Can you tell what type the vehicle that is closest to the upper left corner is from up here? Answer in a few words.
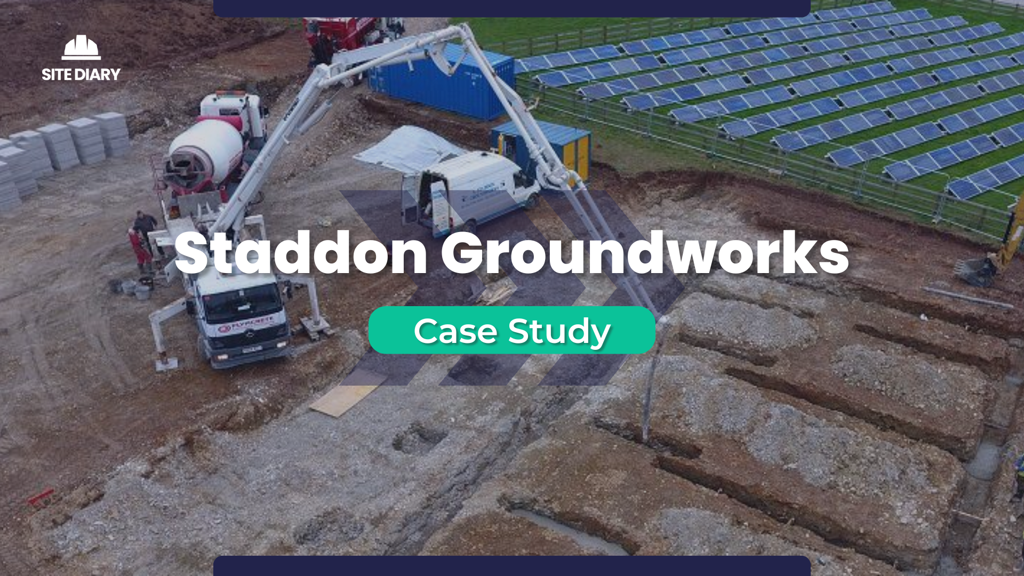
truck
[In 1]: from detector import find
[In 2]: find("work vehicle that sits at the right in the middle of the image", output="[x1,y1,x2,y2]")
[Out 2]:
[951,190,1024,294]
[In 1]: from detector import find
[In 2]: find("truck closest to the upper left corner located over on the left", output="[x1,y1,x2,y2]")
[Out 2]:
[141,87,289,217]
